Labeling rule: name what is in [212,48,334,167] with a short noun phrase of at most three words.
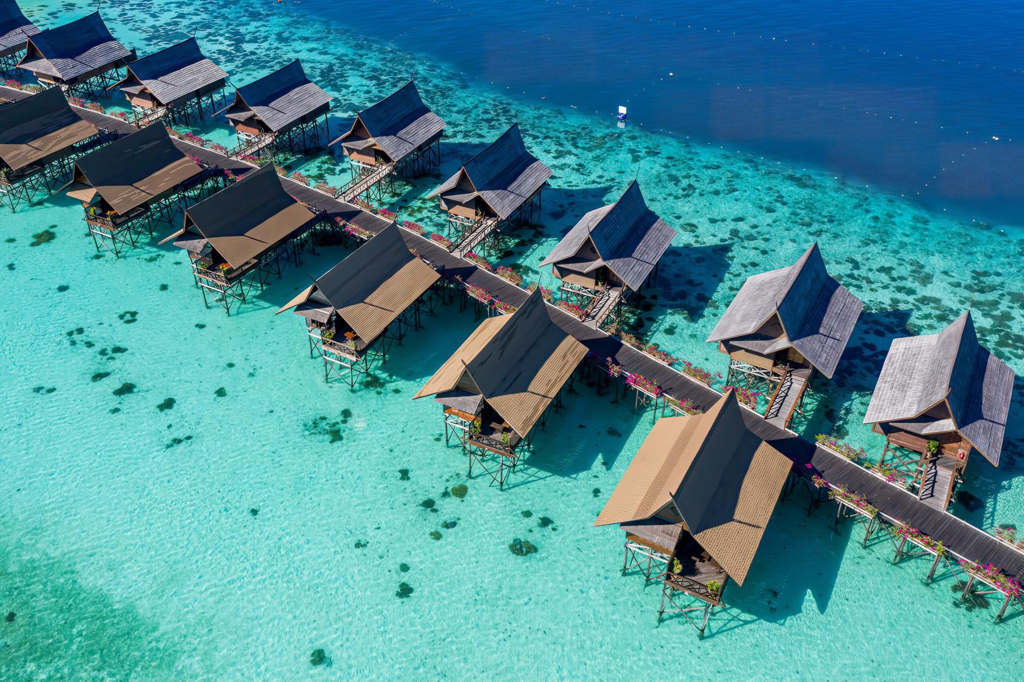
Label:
house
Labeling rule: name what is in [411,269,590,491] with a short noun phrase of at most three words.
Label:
house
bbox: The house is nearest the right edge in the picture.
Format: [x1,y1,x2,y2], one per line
[859,293,1017,512]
